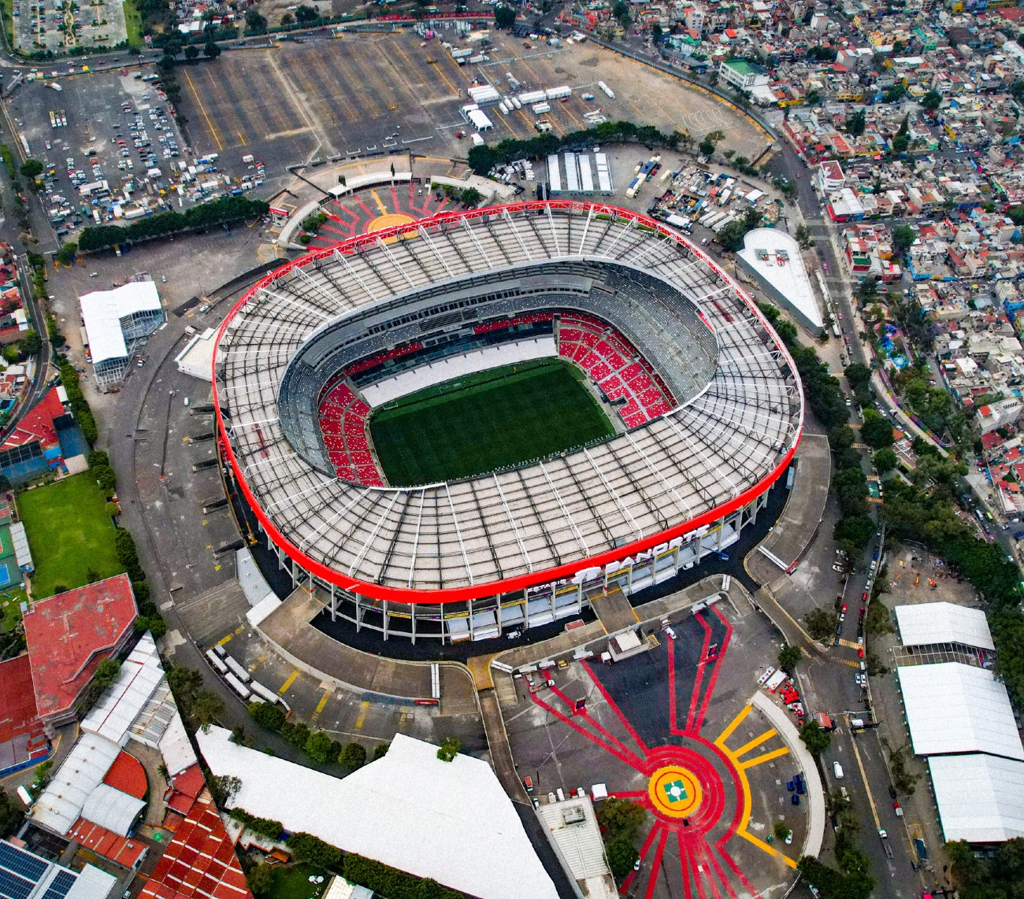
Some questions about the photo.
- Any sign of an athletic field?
Yes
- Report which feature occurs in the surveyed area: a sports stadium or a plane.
sports stadium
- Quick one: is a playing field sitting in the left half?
Yes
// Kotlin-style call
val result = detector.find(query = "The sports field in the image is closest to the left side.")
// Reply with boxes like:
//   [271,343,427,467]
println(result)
[16,469,126,604]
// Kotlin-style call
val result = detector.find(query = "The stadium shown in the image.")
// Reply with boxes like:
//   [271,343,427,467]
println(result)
[213,201,805,643]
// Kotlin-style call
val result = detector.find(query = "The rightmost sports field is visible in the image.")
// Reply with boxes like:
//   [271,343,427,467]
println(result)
[367,367,614,488]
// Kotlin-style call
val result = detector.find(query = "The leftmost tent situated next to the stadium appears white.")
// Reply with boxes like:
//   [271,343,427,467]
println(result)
[80,281,167,382]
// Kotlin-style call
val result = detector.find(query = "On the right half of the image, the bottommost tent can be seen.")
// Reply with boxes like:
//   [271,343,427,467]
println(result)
[924,754,1024,848]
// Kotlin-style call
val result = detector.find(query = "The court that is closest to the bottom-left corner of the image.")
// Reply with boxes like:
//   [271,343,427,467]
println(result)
[0,524,21,588]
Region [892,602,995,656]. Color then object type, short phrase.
white tent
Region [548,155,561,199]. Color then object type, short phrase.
white tent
